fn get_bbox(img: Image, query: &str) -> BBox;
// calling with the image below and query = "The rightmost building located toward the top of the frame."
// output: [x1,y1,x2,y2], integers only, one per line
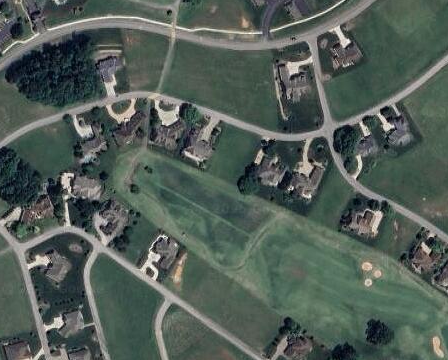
[384,116,416,146]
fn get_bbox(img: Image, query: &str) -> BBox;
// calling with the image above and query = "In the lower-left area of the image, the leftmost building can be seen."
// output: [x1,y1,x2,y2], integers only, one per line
[5,339,32,360]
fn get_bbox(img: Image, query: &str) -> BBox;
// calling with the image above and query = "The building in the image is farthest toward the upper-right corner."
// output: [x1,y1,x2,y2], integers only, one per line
[332,41,364,66]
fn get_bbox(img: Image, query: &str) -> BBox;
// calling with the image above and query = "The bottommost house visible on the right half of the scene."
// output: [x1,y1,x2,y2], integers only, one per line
[283,336,312,360]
